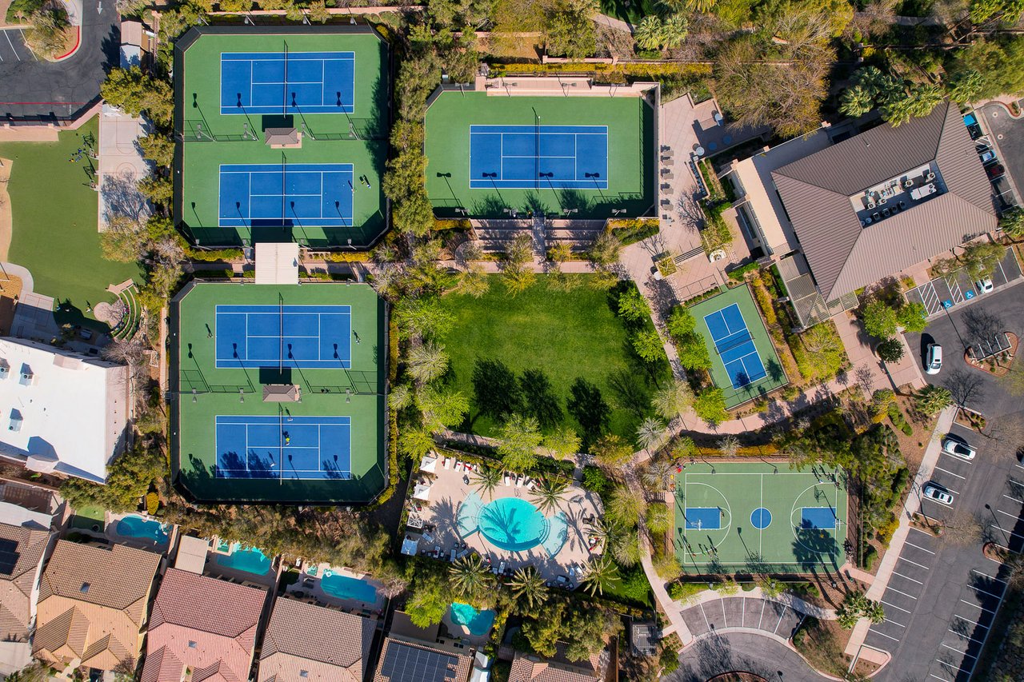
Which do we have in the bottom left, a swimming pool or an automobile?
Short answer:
swimming pool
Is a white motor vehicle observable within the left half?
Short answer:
No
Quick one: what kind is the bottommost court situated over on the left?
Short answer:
tennis court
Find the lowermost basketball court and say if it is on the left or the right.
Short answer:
right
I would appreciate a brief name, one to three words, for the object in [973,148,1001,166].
car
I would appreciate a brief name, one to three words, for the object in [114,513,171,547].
swimming pool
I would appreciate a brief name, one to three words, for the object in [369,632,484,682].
house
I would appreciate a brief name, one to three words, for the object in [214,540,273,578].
swimming pool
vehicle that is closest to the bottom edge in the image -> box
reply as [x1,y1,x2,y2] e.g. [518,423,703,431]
[926,486,954,505]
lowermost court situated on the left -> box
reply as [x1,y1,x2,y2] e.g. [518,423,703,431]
[180,392,387,501]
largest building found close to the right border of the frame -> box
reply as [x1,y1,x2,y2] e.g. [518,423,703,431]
[712,97,999,303]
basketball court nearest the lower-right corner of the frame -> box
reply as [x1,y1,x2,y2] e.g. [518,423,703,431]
[674,462,848,575]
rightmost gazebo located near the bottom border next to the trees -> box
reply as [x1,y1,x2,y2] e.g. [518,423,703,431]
[630,620,657,655]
